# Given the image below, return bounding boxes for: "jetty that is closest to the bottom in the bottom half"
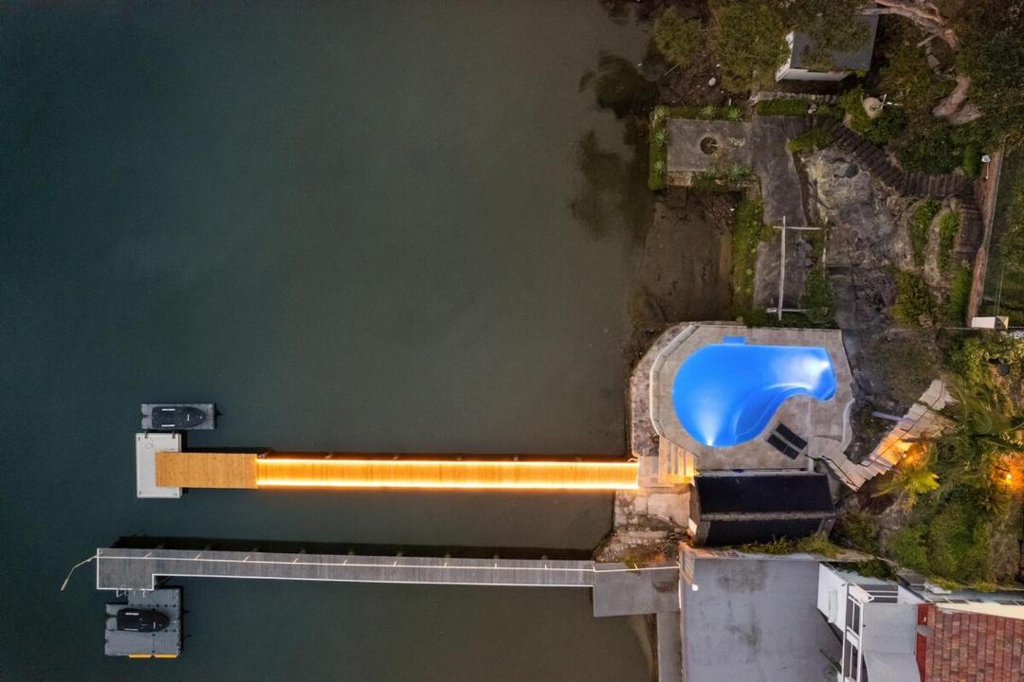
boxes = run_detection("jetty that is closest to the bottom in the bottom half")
[105,586,190,658]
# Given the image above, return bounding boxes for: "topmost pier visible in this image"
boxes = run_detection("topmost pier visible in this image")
[142,403,221,429]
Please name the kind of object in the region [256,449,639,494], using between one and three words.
pier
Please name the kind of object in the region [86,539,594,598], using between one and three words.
pier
